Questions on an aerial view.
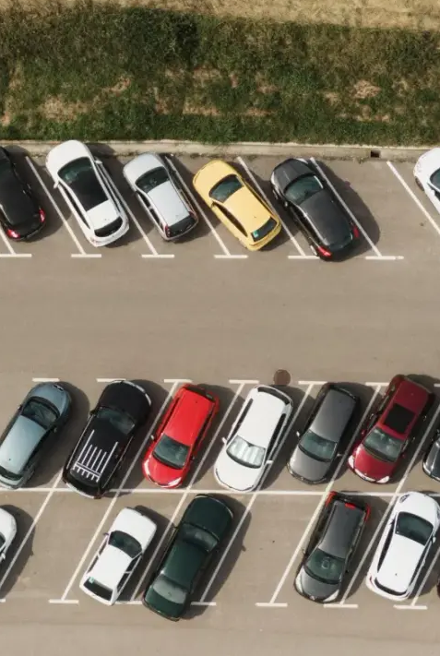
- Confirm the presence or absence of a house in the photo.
No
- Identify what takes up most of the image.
paved ground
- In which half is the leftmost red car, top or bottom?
bottom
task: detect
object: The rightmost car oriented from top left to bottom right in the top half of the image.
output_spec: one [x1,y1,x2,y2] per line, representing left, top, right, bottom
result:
[270,159,357,261]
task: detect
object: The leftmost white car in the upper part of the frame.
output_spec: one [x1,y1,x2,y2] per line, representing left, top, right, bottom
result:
[48,140,130,247]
